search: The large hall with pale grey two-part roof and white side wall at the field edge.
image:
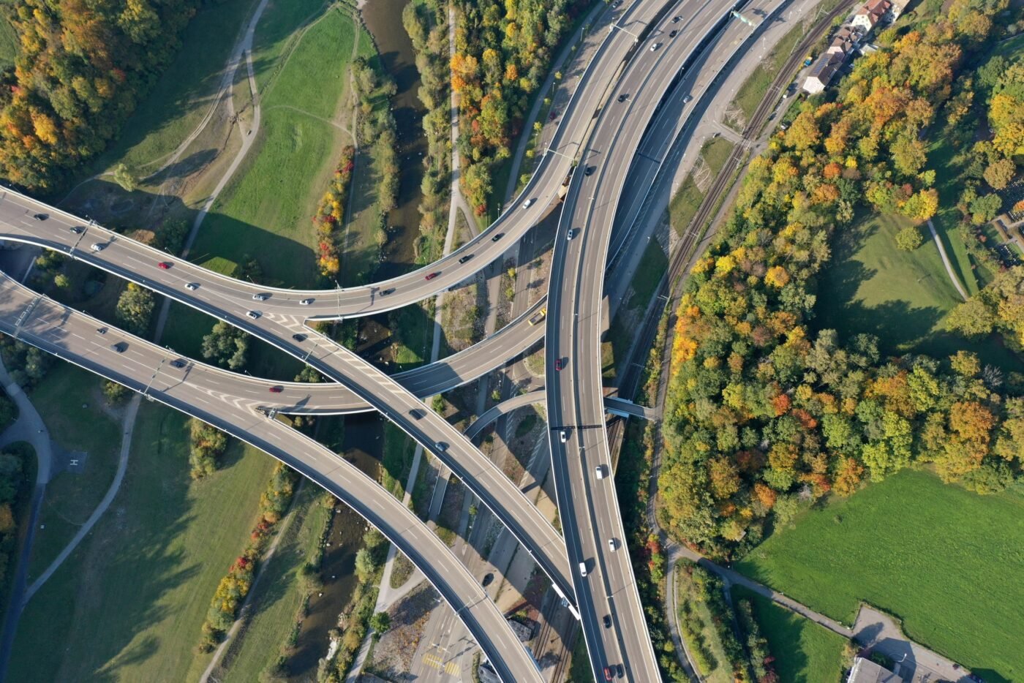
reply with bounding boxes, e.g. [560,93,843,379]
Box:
[846,655,903,683]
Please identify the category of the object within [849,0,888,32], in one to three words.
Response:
house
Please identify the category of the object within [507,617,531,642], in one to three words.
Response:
shed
